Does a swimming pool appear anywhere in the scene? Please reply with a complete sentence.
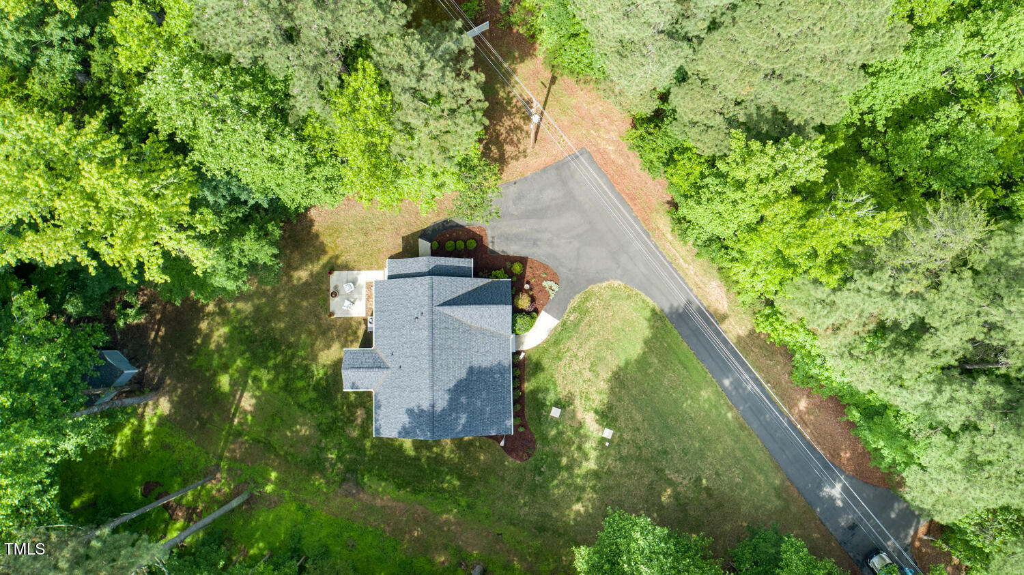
No, there's no swimming pool here.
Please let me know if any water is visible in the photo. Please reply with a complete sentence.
No, there is no water in the image.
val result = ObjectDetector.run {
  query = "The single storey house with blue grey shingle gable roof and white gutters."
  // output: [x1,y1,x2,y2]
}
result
[340,256,517,439]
